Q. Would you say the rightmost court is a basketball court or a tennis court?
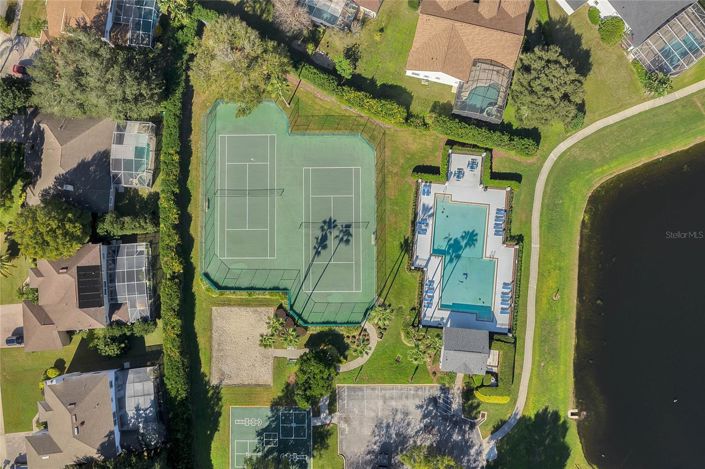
tennis court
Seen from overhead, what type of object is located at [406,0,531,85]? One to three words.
house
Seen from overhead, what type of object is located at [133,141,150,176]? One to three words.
swimming pool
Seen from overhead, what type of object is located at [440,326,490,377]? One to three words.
building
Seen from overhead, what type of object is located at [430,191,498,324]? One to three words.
swimming pool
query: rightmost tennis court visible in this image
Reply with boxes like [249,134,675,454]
[288,134,375,321]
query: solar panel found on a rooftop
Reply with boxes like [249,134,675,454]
[78,265,104,308]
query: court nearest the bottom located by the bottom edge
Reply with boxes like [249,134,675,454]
[230,406,312,469]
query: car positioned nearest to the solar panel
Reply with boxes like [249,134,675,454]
[6,335,24,348]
